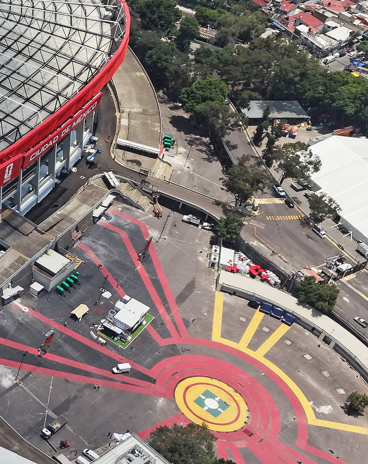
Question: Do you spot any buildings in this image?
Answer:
Yes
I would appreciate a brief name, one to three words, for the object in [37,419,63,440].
truck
